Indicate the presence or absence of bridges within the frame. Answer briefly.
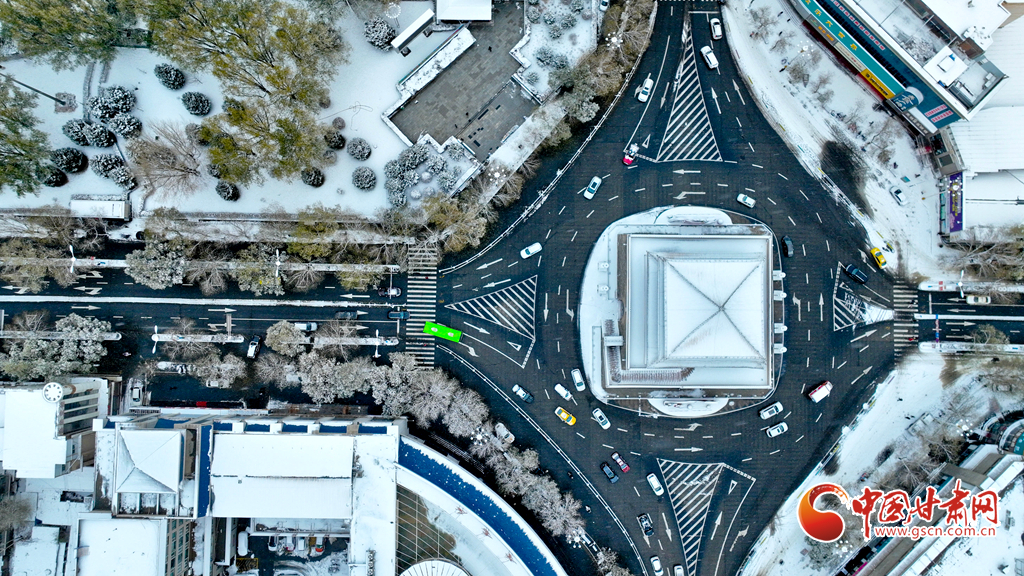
No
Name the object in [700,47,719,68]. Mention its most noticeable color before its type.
white car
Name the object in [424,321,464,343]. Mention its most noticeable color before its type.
green bus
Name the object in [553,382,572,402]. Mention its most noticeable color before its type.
white car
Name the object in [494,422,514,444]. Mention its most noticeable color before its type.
white vehicle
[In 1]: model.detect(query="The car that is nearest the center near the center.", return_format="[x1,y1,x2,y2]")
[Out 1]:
[520,241,542,259]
